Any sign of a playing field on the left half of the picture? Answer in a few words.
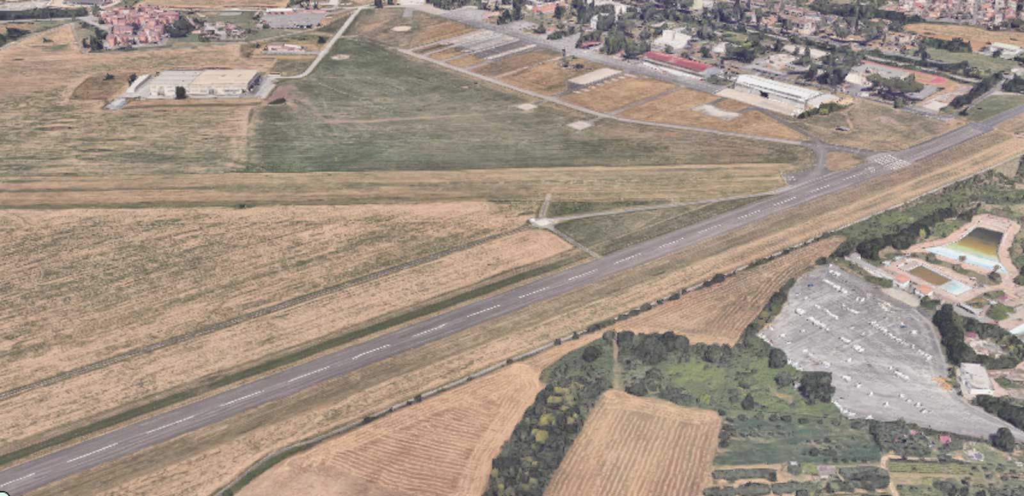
No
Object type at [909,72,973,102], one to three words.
sports field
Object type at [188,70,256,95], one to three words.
building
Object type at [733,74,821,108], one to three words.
hangar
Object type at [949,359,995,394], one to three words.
building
